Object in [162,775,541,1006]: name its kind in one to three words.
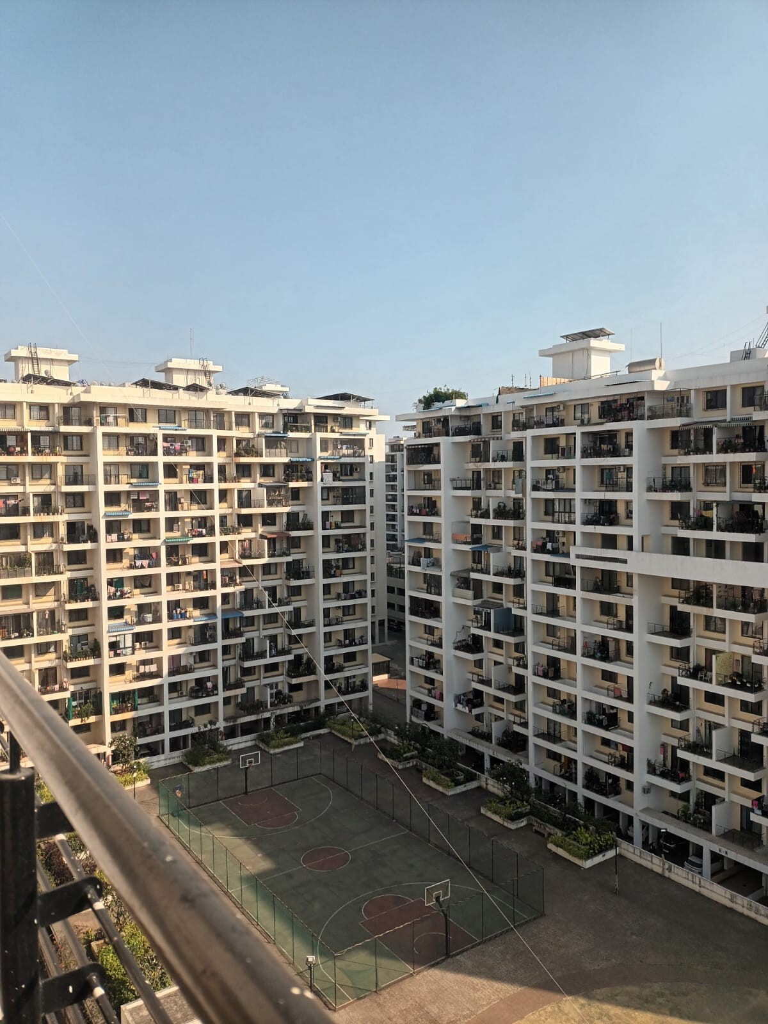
basketball court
